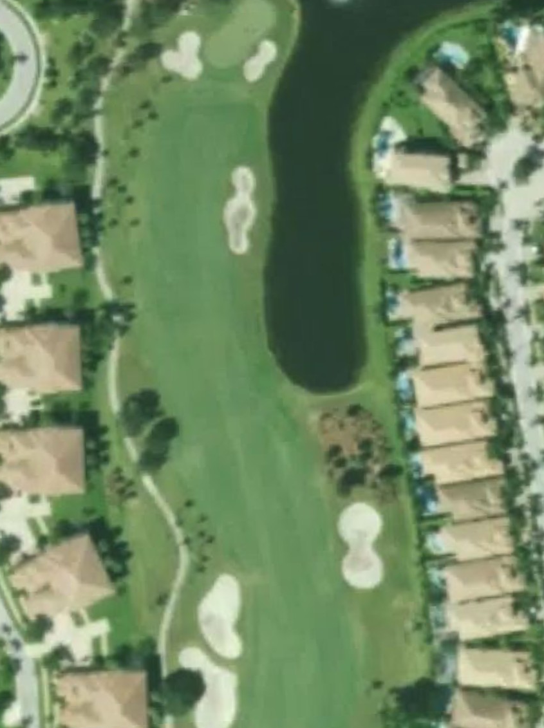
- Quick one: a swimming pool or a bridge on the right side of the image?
swimming pool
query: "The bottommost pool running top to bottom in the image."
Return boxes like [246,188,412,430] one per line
[436,642,457,682]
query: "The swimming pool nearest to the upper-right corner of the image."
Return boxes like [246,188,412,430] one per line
[499,23,529,61]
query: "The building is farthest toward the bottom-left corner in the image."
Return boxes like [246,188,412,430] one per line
[62,671,151,728]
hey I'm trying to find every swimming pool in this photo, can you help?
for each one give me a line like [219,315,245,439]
[387,286,407,322]
[434,43,469,69]
[426,530,446,555]
[377,192,394,229]
[402,412,417,440]
[411,452,424,477]
[395,327,414,358]
[416,486,439,515]
[427,569,446,600]
[397,372,416,400]
[389,238,408,269]
[499,23,529,61]
[375,118,406,180]
[436,642,457,682]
